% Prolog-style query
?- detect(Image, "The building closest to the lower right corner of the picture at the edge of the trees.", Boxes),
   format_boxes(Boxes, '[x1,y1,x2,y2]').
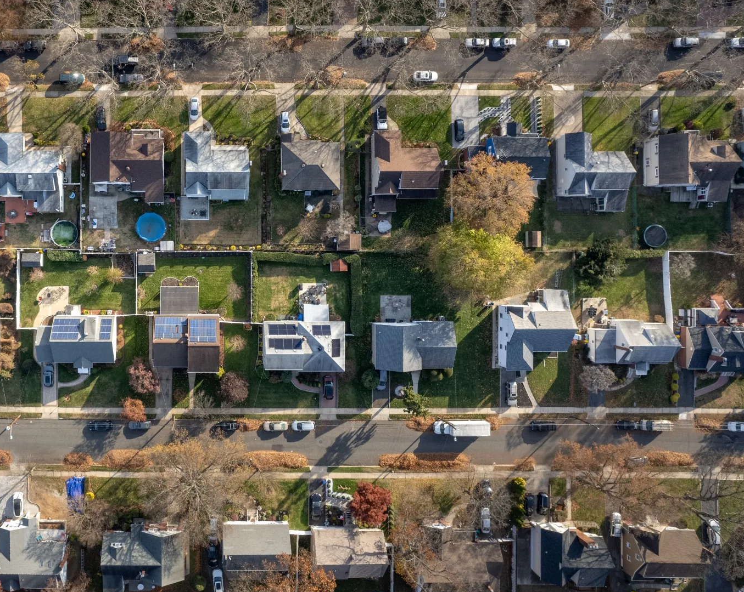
[619,523,716,581]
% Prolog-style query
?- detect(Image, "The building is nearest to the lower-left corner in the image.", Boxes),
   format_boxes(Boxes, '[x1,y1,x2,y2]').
[0,522,72,592]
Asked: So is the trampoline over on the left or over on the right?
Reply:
right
